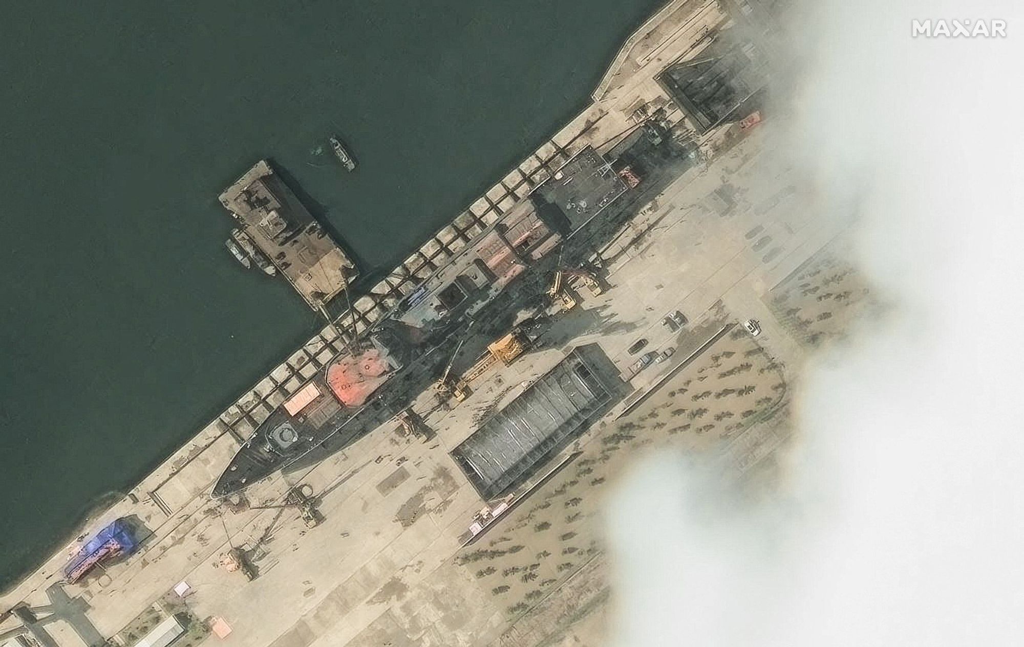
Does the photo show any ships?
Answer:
Yes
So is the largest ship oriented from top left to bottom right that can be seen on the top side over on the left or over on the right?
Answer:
left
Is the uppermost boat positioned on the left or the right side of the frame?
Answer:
left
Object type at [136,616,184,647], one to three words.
building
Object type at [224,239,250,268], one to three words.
boat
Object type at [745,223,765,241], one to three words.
vehicle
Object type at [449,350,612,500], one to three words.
building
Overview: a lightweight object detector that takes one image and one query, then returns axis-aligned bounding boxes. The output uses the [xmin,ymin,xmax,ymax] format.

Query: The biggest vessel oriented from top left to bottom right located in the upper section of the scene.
[218,159,360,357]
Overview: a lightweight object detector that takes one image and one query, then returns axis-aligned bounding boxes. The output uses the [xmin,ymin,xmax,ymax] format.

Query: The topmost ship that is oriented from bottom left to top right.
[211,144,627,498]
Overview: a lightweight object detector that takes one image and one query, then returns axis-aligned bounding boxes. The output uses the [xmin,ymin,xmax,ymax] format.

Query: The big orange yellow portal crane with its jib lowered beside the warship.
[457,333,531,391]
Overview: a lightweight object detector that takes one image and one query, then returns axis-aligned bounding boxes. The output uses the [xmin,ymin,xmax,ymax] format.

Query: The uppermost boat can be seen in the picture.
[329,135,356,170]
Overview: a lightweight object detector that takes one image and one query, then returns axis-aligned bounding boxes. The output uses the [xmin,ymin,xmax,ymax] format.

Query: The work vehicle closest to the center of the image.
[556,284,578,311]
